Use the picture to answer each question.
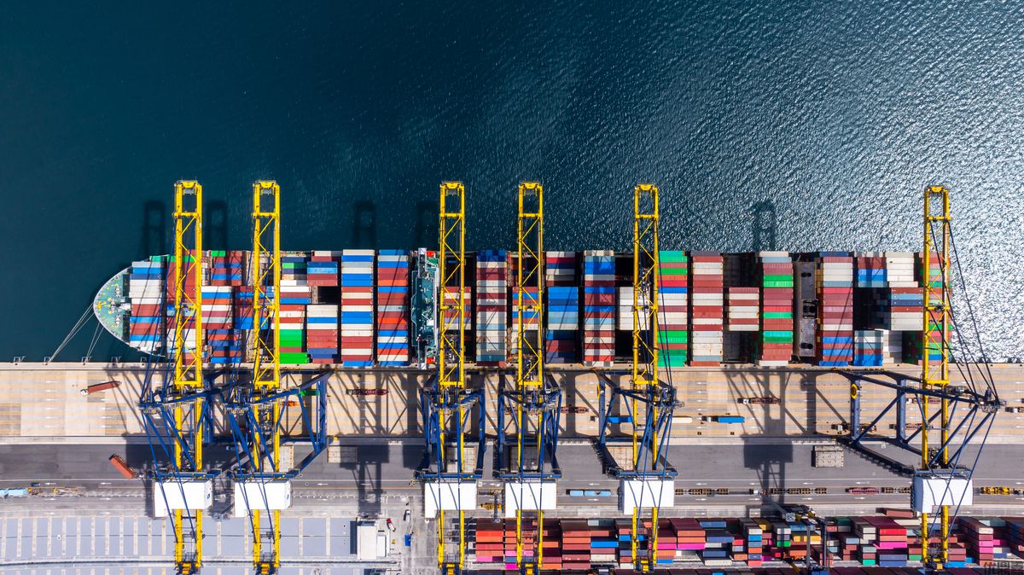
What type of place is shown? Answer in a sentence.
It's a port.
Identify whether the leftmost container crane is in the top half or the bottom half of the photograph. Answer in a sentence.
Seen from above, the leftmost container crane lies in the bottom half of the view.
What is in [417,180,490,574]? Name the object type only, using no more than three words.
container crane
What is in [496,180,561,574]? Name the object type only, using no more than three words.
container crane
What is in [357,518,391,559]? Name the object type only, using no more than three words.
building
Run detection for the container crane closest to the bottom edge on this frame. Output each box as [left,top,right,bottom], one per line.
[776,507,832,575]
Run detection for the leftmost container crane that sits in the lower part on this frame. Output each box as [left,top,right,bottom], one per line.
[131,177,274,574]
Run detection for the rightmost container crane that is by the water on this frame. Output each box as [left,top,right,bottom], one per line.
[833,182,1014,574]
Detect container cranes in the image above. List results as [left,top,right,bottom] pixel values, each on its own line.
[417,180,490,574]
[776,507,832,575]
[131,177,274,574]
[219,177,338,574]
[595,180,685,574]
[496,180,561,574]
[833,182,1014,574]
